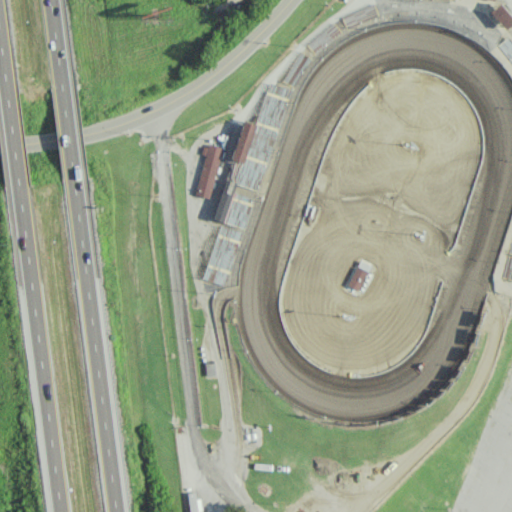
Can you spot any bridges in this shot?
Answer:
Yes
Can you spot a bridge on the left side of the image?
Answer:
Yes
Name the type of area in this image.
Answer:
sports ground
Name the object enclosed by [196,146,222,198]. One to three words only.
building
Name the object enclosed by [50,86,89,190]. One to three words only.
bridge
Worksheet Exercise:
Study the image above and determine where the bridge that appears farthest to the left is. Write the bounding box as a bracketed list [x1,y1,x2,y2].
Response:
[0,98,33,202]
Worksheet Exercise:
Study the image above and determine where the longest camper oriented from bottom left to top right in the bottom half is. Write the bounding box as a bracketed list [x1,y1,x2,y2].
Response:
[384,460,400,474]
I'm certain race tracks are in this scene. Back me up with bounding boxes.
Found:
[238,23,512,420]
